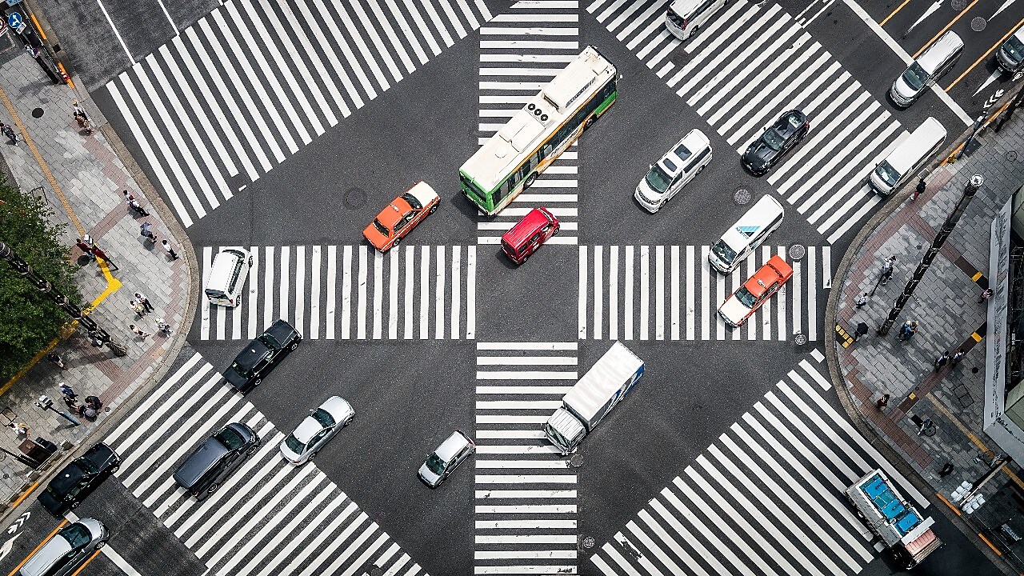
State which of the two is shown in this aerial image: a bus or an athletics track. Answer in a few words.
bus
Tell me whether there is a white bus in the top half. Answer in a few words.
Yes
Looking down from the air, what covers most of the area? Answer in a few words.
paved ground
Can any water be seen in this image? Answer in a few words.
No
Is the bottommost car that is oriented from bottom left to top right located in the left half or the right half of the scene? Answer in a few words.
left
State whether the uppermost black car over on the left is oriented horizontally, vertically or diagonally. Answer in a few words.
diagonally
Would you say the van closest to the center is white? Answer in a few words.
No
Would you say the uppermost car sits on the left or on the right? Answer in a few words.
right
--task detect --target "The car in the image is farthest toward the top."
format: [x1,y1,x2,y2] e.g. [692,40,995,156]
[667,0,732,39]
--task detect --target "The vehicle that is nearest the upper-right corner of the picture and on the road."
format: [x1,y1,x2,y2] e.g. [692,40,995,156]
[994,21,1024,73]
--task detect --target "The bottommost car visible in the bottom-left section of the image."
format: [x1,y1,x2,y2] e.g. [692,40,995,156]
[25,517,109,576]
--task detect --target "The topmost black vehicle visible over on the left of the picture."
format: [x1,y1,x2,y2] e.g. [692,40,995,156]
[222,318,302,395]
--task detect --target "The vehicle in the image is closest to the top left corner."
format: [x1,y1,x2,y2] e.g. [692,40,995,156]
[207,245,255,308]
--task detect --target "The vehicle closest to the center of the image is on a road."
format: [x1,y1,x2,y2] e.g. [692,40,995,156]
[503,205,563,263]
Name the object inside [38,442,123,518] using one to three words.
car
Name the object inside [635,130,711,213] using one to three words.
car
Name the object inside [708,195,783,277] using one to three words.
van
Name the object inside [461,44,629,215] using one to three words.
bus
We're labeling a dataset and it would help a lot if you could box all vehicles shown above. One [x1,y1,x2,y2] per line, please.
[890,31,964,111]
[503,205,563,263]
[176,421,260,496]
[25,517,109,576]
[222,318,302,395]
[461,44,629,215]
[868,118,946,199]
[537,339,644,458]
[415,428,477,491]
[207,245,255,308]
[741,109,810,177]
[842,464,952,573]
[994,21,1024,73]
[667,0,732,39]
[281,396,356,467]
[363,179,442,253]
[38,442,123,518]
[708,195,783,277]
[635,130,711,213]
[717,254,795,330]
